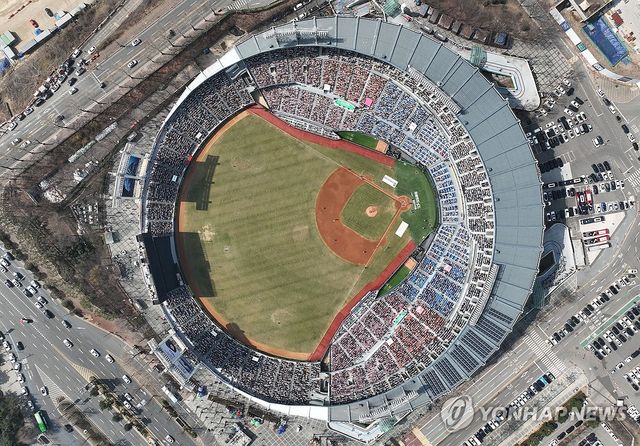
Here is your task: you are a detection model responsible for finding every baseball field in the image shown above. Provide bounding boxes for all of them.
[176,104,438,362]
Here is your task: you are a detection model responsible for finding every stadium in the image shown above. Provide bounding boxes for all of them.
[141,12,549,424]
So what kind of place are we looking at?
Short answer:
sports ground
